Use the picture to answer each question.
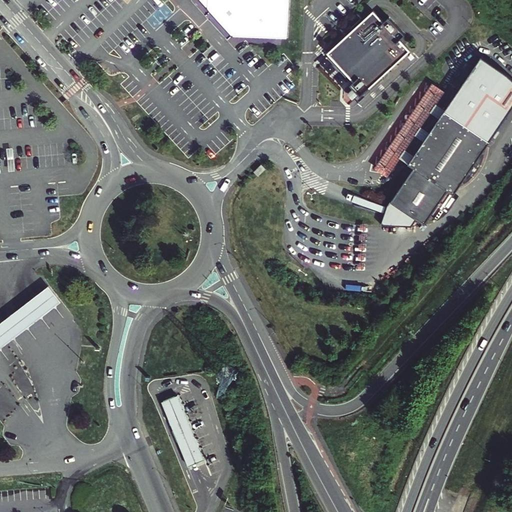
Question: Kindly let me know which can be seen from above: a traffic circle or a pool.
traffic circle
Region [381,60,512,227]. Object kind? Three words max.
warehouse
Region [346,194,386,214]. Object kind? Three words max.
vehicle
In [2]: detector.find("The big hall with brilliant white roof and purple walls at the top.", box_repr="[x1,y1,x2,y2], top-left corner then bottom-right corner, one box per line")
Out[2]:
[190,0,288,45]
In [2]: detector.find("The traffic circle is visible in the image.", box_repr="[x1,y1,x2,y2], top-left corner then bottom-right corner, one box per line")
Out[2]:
[68,153,228,408]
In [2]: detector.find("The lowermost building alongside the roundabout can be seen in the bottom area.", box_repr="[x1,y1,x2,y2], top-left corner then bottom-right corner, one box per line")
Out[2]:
[162,394,211,476]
